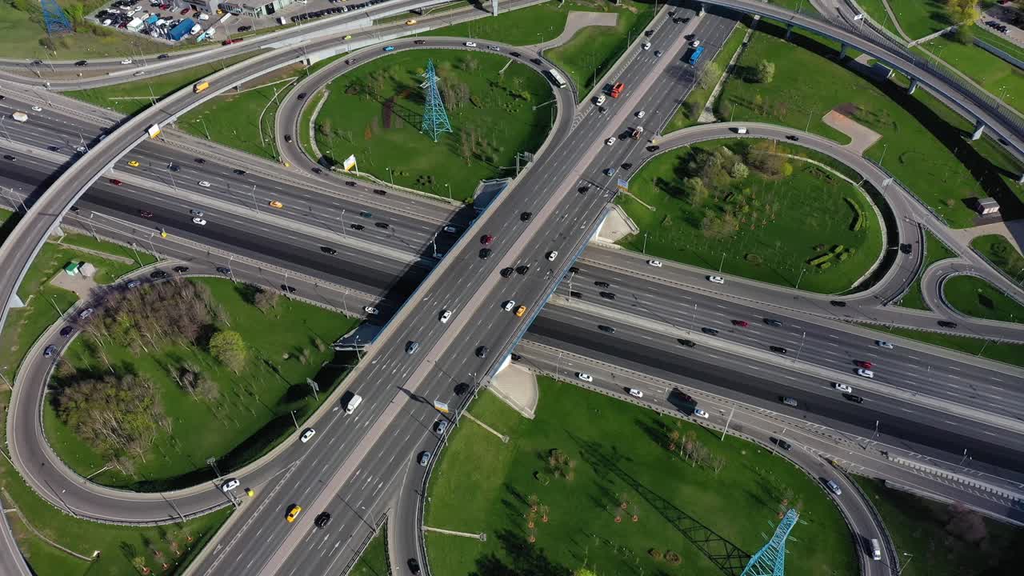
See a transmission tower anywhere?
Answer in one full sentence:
Yes, a transmission tower is visible in the scene.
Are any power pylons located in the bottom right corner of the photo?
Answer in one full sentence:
Yes, a power pylon shows up in the bottom right corner of the photo.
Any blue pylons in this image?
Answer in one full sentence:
Yes, there is a blue pylon in the image.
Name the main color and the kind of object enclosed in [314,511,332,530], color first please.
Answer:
black car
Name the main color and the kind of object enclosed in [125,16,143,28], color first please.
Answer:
white vehicle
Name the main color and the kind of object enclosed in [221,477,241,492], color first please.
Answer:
white car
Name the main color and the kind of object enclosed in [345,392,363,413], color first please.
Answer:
white vehicle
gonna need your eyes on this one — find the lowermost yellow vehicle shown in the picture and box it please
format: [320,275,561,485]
[285,504,303,524]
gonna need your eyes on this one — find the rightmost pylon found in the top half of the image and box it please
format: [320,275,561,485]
[419,61,454,142]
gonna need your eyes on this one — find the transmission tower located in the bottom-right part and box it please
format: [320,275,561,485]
[736,508,800,576]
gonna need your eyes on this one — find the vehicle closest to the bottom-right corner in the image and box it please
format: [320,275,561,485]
[869,539,885,562]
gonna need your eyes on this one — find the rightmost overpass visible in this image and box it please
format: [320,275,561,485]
[705,0,1024,151]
